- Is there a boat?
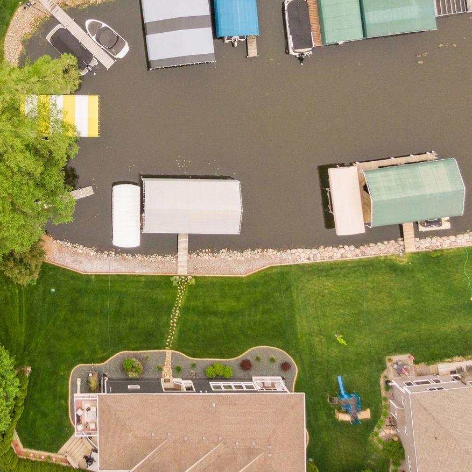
Yes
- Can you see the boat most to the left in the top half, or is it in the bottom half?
top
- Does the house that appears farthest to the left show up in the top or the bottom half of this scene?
bottom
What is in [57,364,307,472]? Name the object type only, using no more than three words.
house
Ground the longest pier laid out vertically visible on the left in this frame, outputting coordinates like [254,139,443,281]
[175,234,189,275]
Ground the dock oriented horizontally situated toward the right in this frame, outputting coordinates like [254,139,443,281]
[353,151,438,170]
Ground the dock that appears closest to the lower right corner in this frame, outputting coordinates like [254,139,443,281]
[401,221,416,254]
